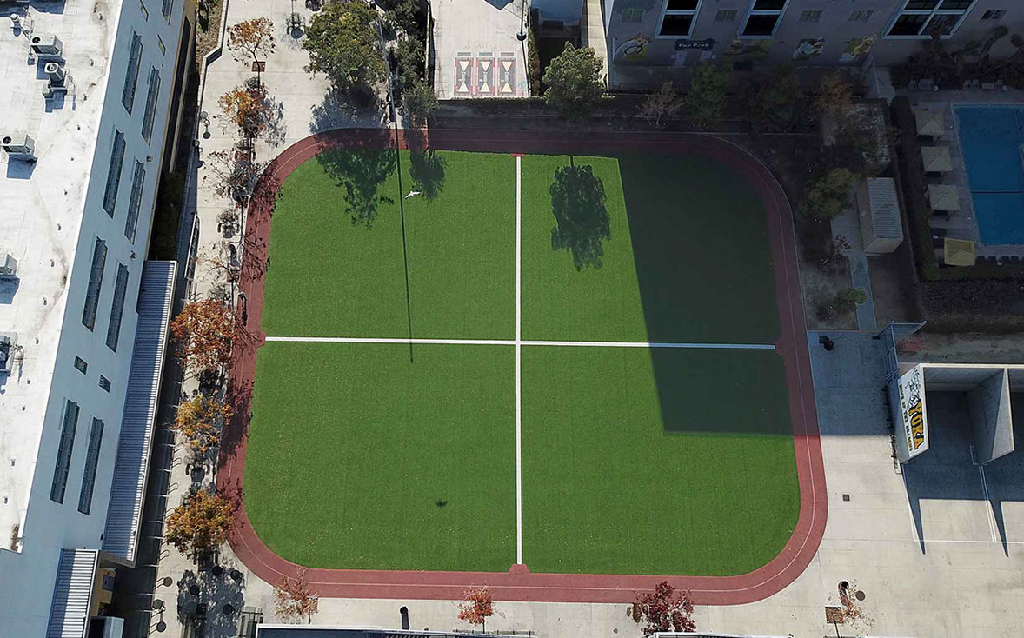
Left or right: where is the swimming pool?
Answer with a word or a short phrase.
right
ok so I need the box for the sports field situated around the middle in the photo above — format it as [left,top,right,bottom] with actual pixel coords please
[242,150,799,574]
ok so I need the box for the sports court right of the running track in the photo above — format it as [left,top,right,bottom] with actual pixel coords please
[893,364,1024,542]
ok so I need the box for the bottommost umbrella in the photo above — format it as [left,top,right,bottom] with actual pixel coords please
[940,238,977,270]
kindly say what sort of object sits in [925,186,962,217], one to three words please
umbrella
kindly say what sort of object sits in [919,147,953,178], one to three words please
umbrella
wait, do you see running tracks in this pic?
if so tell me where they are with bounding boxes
[212,127,827,605]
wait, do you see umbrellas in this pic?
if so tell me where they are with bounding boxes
[919,147,953,178]
[912,109,947,138]
[925,186,962,217]
[940,238,977,270]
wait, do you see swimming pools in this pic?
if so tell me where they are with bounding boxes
[949,103,1024,249]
